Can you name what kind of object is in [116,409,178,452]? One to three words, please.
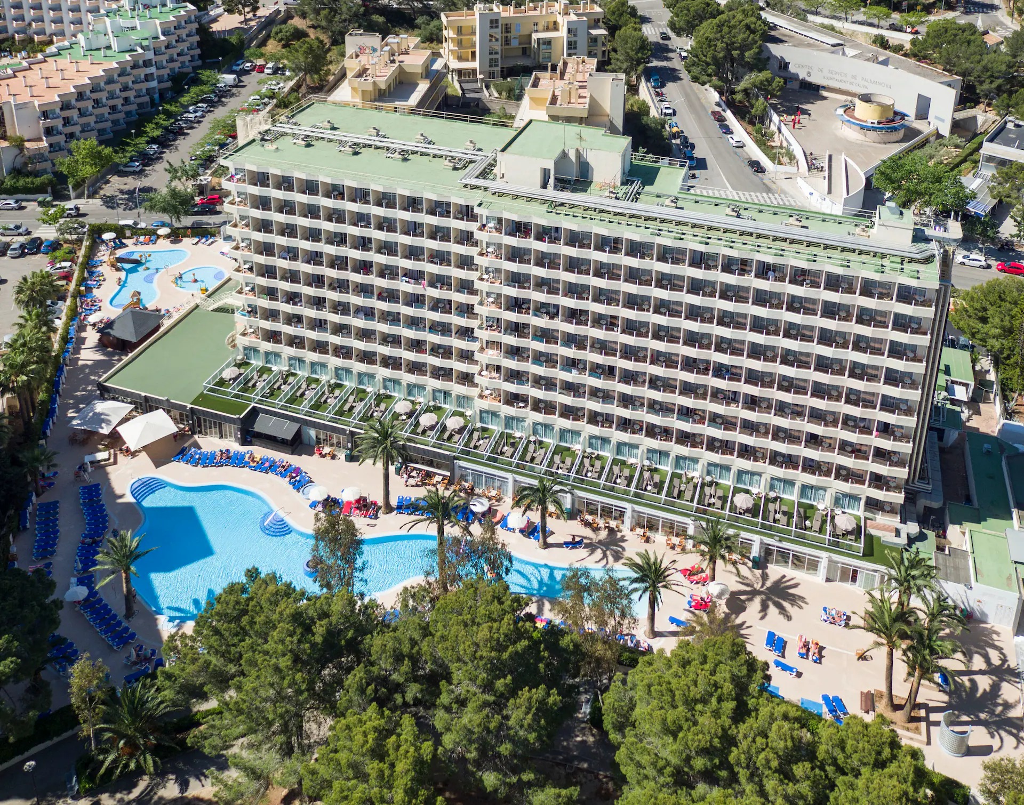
umbrella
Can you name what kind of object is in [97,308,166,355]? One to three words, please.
shed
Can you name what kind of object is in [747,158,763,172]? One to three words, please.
car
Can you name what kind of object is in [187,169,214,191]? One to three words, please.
shed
